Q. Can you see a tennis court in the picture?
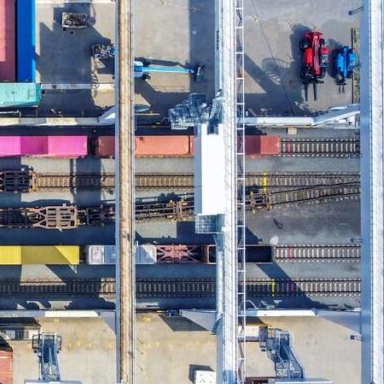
No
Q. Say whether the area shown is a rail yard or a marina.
rail yard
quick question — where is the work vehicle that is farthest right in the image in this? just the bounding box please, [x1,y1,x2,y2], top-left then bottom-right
[332,48,355,92]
